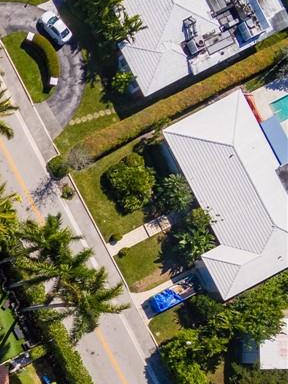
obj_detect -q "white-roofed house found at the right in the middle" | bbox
[153,89,288,301]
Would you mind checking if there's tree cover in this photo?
Yes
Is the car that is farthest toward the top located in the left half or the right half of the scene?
left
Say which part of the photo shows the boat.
bottom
